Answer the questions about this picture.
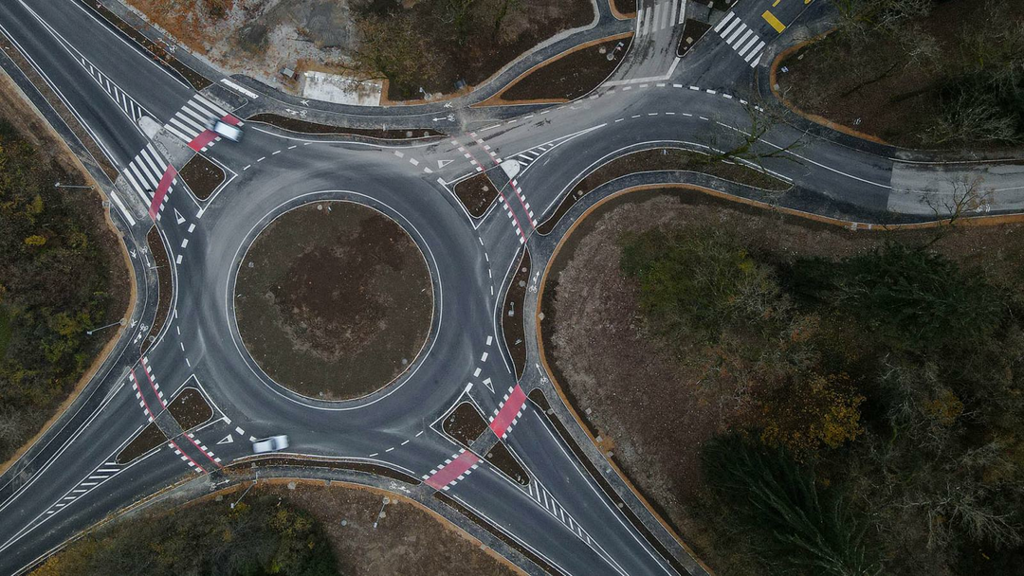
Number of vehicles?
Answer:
2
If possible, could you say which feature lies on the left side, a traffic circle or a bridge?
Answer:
traffic circle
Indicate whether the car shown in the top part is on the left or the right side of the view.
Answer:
left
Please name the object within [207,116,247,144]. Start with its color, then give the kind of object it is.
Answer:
white car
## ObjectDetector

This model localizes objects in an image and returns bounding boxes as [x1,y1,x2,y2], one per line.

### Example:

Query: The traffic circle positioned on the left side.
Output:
[173,140,495,455]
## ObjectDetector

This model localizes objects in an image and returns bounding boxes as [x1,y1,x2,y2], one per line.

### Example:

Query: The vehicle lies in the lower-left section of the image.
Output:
[252,432,290,452]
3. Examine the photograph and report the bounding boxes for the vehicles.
[252,432,290,452]
[207,116,247,144]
